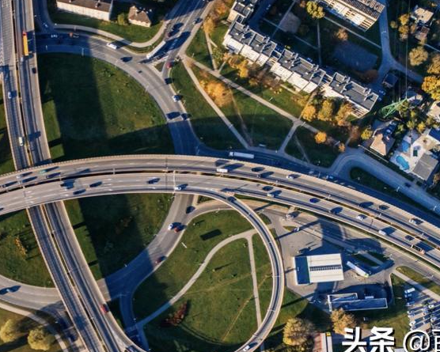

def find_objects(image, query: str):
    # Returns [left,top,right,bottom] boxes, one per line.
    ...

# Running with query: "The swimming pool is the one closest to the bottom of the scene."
[394,155,410,171]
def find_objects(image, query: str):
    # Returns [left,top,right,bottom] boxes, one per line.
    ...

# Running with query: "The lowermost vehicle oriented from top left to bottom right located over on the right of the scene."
[347,261,369,278]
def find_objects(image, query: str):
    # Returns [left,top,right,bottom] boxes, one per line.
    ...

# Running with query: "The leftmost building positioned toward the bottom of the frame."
[291,256,312,284]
